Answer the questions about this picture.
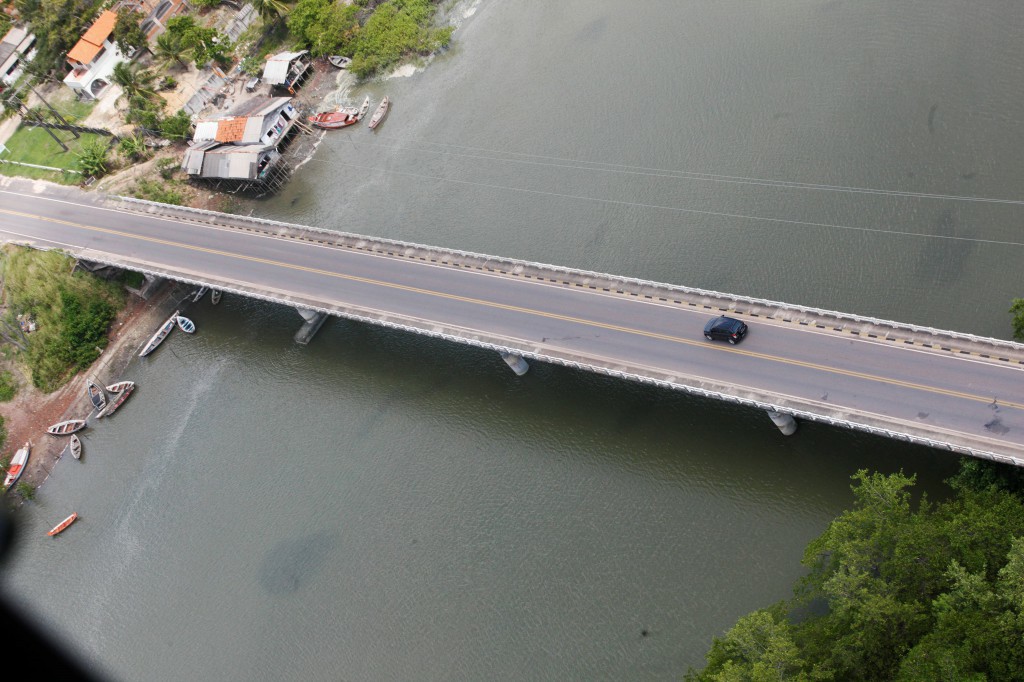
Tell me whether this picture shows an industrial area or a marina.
marina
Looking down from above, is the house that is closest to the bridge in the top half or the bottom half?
top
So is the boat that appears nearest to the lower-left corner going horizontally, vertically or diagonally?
diagonally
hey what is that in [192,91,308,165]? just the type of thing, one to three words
house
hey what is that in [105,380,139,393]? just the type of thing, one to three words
boat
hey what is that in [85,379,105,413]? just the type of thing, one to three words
boat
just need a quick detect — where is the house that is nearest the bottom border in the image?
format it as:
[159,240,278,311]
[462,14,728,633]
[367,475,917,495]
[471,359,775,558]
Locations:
[186,141,294,200]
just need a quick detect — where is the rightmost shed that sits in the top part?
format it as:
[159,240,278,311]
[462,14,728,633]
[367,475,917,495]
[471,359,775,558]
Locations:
[263,50,322,102]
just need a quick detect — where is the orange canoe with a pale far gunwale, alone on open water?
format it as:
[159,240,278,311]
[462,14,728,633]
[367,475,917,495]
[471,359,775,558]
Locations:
[47,512,80,538]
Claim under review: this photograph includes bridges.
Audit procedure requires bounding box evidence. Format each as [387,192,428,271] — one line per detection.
[64,196,1024,474]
